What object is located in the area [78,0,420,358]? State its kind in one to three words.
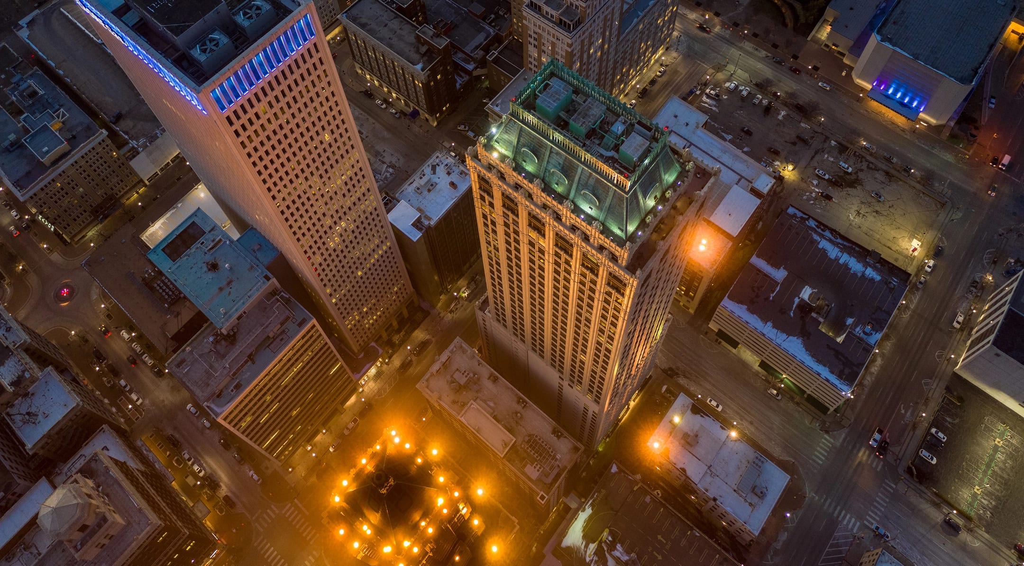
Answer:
building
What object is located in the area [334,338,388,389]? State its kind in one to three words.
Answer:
building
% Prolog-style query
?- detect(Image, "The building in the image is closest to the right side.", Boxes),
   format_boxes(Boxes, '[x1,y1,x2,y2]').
[953,283,1024,414]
